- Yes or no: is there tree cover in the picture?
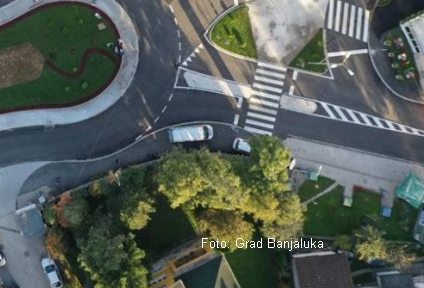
Yes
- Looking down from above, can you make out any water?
No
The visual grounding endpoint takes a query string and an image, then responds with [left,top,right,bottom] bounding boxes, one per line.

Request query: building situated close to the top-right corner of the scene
[384,3,424,54]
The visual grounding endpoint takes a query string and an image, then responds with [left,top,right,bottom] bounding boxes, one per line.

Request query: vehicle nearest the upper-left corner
[166,123,212,141]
